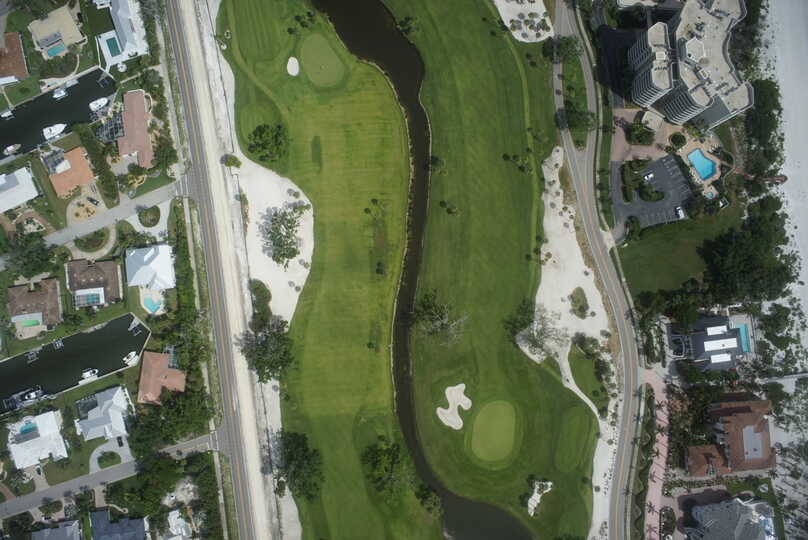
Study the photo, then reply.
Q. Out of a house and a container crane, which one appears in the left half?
house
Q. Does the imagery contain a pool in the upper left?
Yes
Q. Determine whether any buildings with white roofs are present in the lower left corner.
Yes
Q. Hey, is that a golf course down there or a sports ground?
golf course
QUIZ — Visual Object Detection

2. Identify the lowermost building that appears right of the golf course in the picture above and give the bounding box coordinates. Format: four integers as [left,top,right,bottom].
[682,497,775,540]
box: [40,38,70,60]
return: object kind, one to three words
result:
swimming pool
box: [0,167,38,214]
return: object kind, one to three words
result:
house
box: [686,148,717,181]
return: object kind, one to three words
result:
swimming pool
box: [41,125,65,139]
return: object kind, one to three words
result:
boat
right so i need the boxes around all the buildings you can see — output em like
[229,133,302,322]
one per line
[0,167,38,214]
[93,0,139,53]
[139,351,186,403]
[0,32,29,81]
[682,497,775,540]
[126,246,177,290]
[612,0,661,13]
[686,316,744,370]
[117,91,155,168]
[66,261,122,304]
[642,111,664,131]
[29,6,86,48]
[628,0,754,127]
[8,278,63,324]
[170,511,193,540]
[33,519,86,540]
[48,147,96,198]
[10,411,69,469]
[716,398,776,474]
[79,387,128,441]
[92,508,148,540]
